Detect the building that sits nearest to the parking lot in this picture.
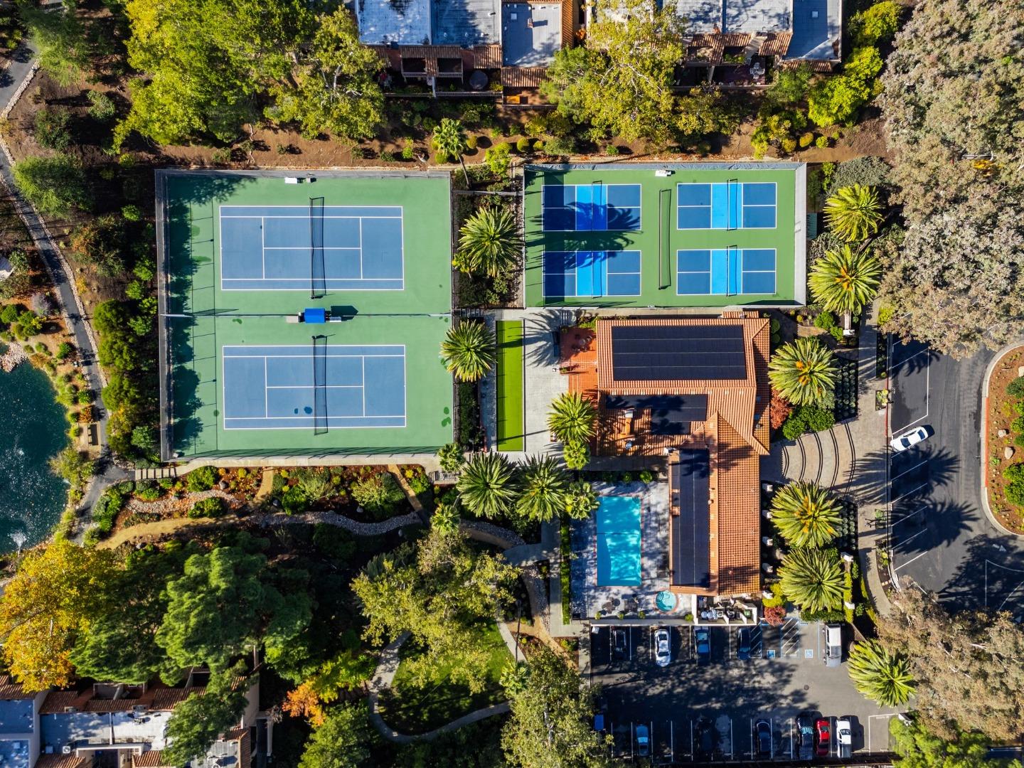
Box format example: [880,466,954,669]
[596,311,771,601]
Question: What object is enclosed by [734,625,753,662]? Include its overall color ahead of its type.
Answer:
black car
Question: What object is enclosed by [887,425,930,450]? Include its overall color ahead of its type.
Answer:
white car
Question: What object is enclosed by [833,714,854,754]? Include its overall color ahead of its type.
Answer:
white vehicle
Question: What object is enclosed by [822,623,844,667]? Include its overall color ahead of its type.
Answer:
white vehicle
